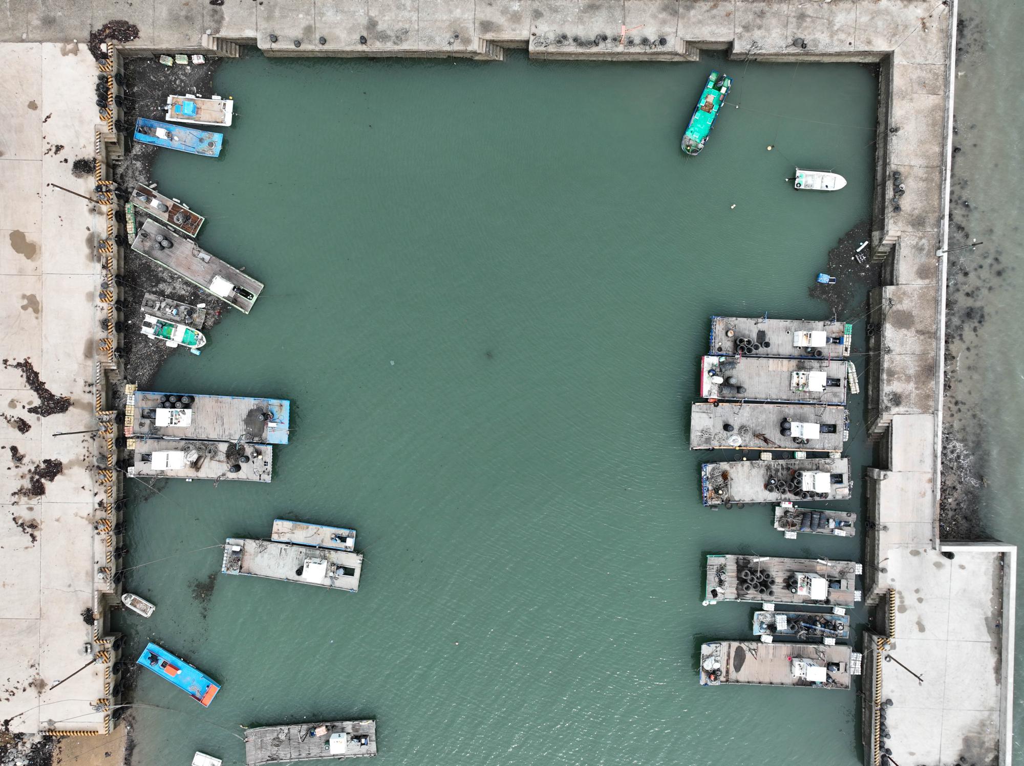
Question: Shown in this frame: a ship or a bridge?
ship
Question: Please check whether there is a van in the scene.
No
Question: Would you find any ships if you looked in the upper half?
Yes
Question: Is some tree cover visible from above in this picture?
No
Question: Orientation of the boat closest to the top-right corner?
from side to side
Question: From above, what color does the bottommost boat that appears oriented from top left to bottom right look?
blue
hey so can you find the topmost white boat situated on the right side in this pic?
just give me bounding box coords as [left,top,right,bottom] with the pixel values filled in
[785,168,848,191]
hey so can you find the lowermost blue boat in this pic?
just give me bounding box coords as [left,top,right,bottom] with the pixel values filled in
[137,643,222,708]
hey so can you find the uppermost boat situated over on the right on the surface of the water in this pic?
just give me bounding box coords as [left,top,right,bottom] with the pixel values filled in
[681,70,734,157]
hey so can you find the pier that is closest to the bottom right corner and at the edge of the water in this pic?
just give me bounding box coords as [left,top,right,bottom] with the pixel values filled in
[857,539,1018,766]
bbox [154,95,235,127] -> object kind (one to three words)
boat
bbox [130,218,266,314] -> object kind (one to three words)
ship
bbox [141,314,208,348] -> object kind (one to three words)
boat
